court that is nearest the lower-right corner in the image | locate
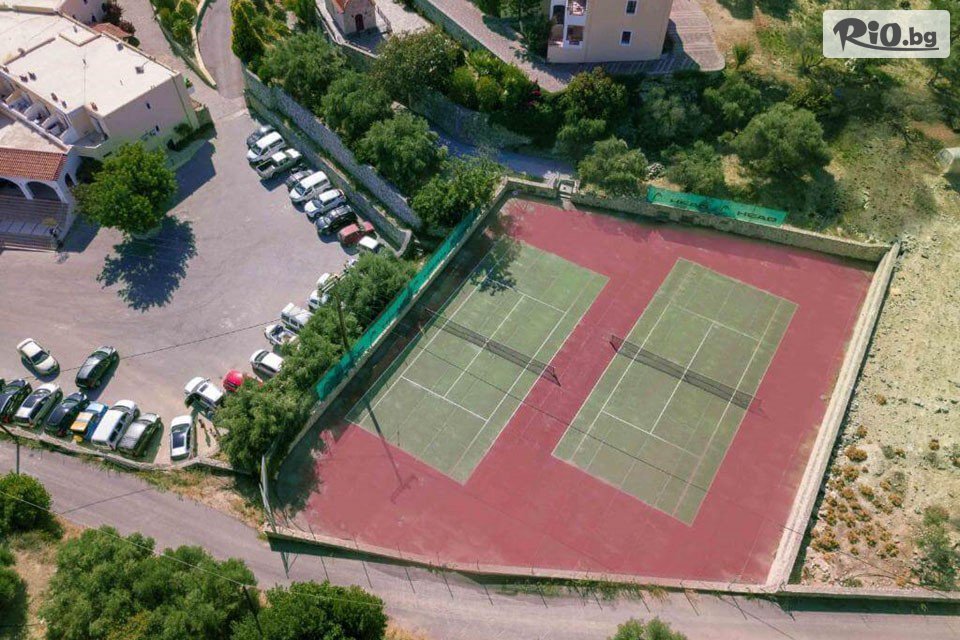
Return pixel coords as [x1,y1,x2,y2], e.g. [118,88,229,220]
[553,258,798,525]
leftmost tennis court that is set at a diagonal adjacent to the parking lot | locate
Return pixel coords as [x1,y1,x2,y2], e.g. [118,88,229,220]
[346,234,608,484]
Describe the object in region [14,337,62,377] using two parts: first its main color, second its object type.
white car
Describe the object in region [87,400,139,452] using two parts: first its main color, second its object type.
white van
